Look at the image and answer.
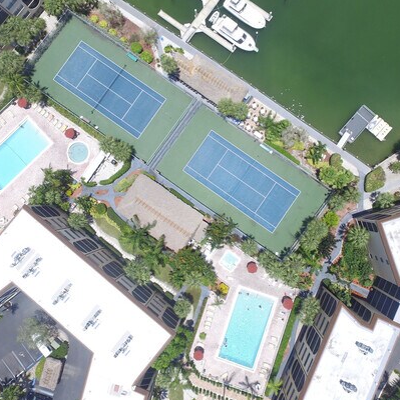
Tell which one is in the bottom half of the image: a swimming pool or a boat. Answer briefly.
swimming pool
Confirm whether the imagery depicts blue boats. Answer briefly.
No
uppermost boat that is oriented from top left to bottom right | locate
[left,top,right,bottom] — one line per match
[220,0,267,28]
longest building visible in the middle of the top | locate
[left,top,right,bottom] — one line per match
[175,51,250,105]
